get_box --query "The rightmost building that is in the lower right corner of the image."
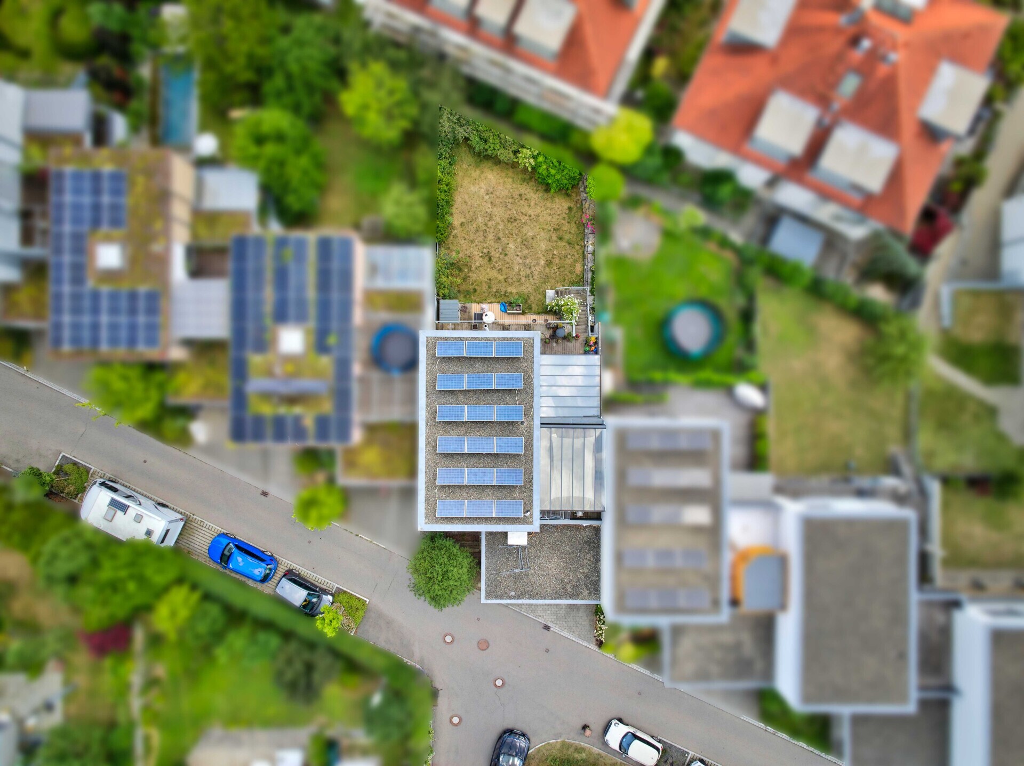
[934,586,1024,766]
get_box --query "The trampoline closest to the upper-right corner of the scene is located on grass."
[664,298,730,357]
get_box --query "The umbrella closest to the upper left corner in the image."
[193,131,227,162]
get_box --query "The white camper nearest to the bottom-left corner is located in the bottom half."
[74,477,189,560]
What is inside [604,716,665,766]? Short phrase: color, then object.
white car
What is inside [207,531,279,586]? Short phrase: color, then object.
blue car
